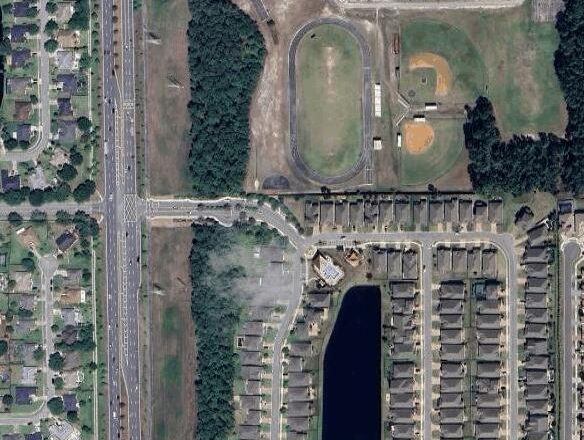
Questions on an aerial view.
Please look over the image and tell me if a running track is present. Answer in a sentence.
Yes, a running track is visible in the scene.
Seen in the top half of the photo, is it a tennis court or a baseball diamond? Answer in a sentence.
What appears in the top half of the photo is a baseball diamond.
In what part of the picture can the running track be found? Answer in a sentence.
The running track is in the top part of the image.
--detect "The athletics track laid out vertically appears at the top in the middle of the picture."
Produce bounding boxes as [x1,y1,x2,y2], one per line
[289,18,371,184]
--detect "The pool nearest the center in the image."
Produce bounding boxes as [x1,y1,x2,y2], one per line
[313,256,345,286]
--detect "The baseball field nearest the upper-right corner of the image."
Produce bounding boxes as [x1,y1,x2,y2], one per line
[401,19,485,105]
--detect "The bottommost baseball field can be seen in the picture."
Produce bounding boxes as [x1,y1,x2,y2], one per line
[401,118,466,184]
